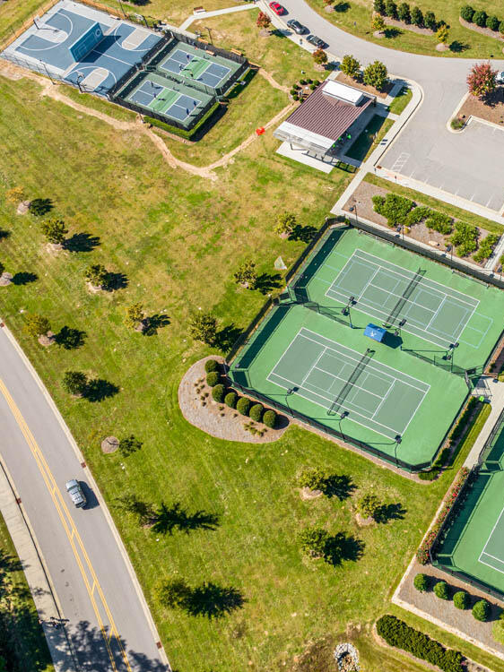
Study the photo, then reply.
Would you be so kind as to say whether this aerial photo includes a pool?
No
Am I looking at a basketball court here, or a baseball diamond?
basketball court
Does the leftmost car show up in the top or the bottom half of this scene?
bottom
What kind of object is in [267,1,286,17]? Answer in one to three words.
car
